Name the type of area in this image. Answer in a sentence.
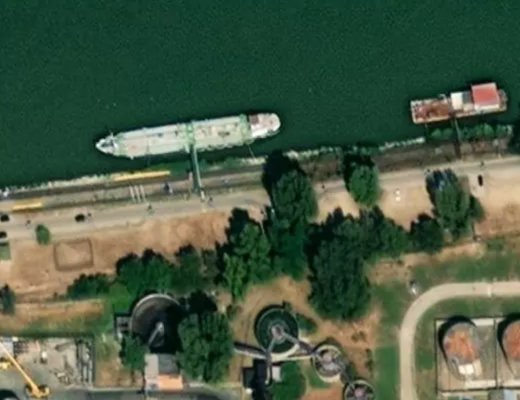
This image shows an industrial area.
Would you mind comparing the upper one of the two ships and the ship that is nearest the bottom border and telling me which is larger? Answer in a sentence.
Of the two, the ship that is nearest the bottom border is bigger, while the upper one of the two ships is smaller.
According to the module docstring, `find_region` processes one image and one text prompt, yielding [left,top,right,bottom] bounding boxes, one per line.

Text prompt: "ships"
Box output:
[411,89,506,123]
[95,114,281,158]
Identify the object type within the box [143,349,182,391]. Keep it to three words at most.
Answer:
building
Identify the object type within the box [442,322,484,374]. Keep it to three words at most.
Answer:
storage tank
